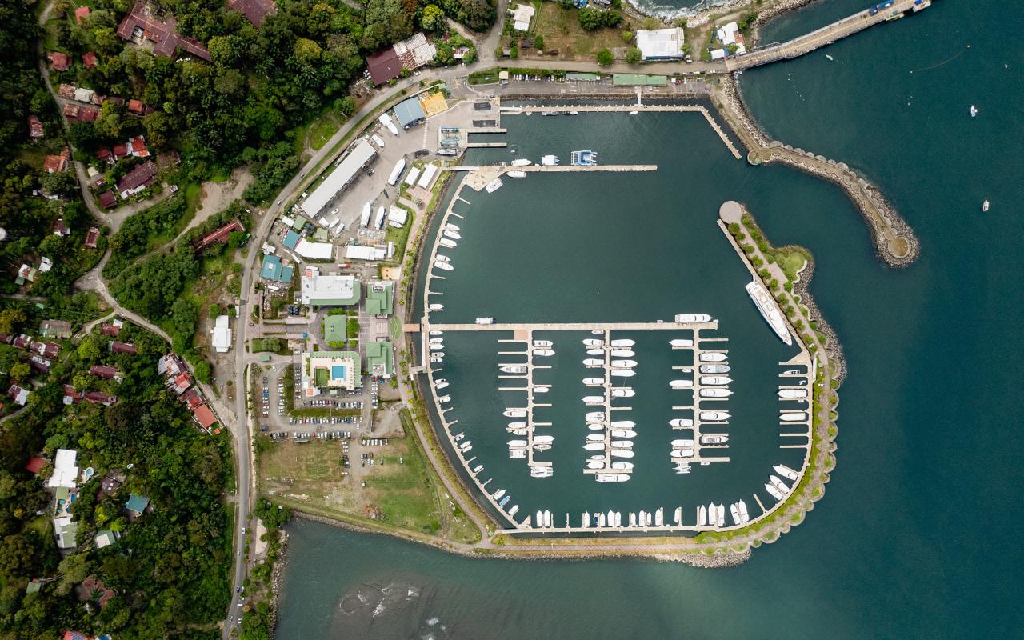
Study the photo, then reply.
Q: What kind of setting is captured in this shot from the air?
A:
port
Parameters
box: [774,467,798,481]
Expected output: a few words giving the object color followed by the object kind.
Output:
white boat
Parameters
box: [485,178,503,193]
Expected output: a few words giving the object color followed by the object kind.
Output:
white boat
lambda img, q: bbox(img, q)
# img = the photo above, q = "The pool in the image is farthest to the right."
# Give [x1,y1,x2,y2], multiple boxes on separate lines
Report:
[332,366,346,380]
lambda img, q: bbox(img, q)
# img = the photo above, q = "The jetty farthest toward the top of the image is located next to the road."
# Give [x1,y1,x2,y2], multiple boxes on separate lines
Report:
[722,0,951,72]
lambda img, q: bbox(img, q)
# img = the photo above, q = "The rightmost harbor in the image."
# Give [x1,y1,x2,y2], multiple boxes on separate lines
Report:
[484,206,845,566]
